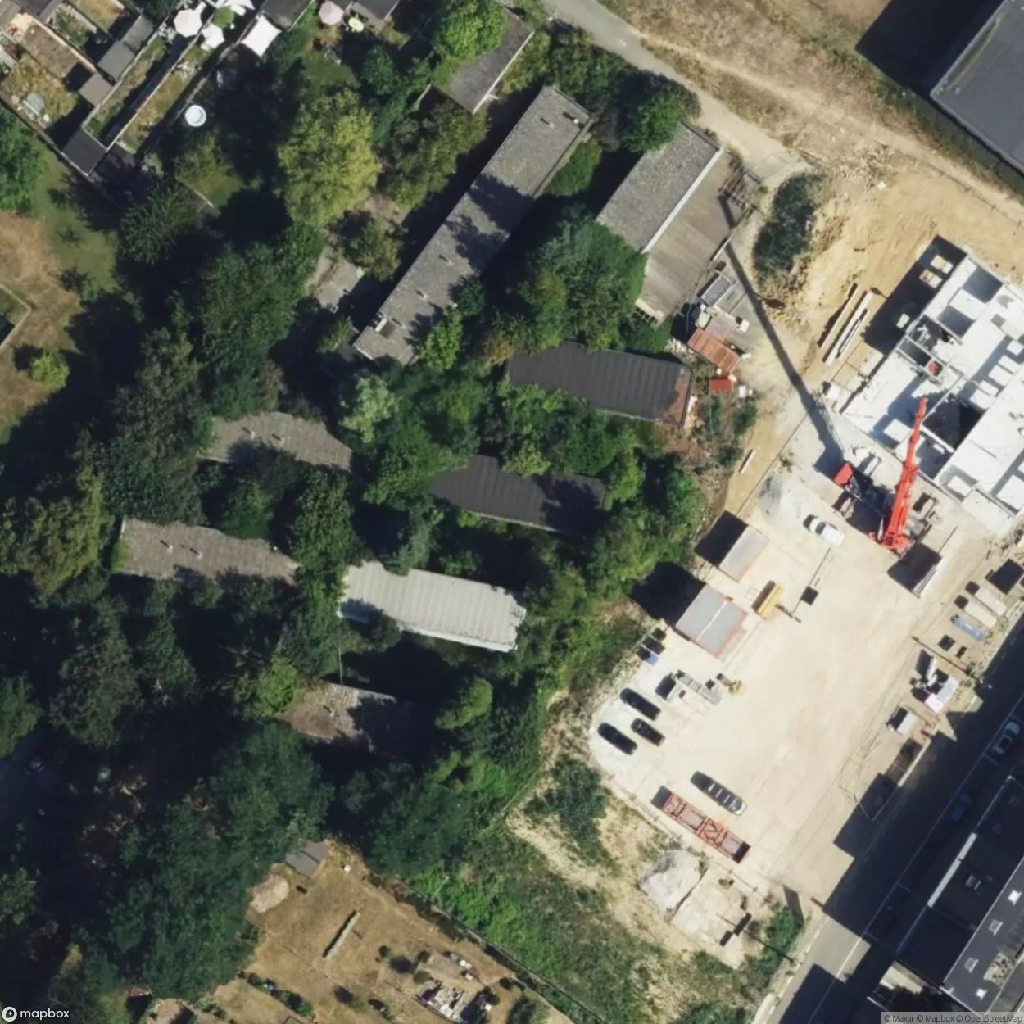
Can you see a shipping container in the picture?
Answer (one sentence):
Yes, you can see a shipping container in this photo.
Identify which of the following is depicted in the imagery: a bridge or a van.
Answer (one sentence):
This aerial view contains a van.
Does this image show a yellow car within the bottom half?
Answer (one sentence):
No, the scene shows no yellow car within the bottom half.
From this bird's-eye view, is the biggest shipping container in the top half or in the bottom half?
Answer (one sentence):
It is in the top half that the biggest shipping container appears.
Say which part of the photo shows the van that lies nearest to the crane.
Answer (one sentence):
The van that lies nearest to the crane is in the right part of the image.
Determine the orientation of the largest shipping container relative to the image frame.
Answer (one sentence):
I'd say the largest shipping container is aligned diagonally in the picture.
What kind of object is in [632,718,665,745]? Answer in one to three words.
car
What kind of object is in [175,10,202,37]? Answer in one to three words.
umbrella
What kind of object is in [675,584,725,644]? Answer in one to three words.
building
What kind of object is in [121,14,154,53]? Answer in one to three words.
shed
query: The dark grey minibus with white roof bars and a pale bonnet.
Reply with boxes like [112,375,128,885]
[698,776,745,813]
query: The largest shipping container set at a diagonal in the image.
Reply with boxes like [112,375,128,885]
[686,330,742,379]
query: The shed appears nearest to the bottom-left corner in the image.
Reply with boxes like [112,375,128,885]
[286,839,329,875]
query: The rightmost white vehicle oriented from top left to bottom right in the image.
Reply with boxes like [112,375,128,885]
[808,515,848,547]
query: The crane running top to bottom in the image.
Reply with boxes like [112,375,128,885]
[834,330,944,559]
